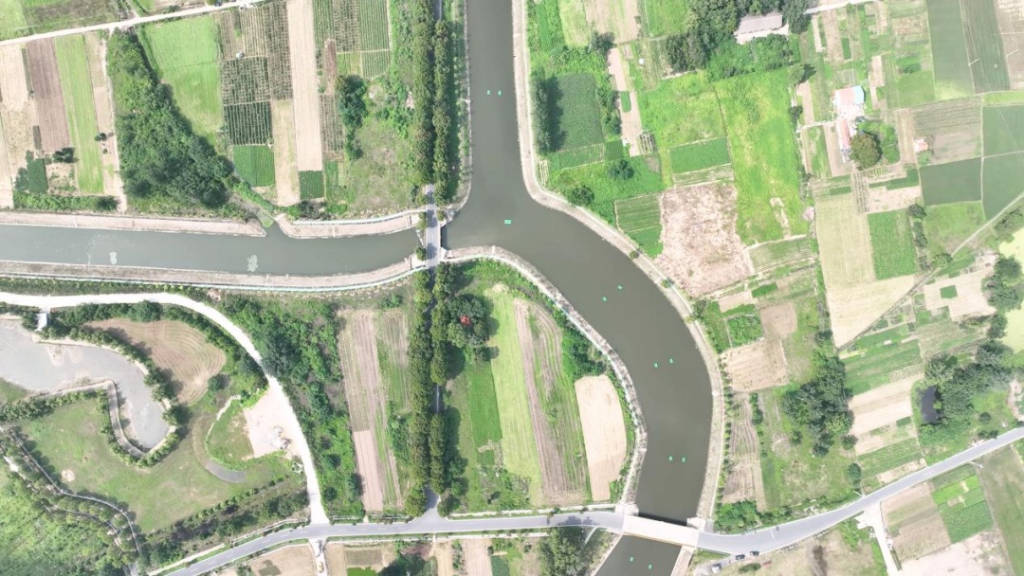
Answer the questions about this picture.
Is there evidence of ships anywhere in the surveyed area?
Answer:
No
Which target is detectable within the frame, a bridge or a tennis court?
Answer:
bridge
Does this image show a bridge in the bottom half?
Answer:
Yes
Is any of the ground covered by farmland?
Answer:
Yes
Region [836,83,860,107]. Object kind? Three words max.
house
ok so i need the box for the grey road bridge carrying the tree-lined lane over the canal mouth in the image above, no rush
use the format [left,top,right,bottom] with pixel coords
[412,183,457,268]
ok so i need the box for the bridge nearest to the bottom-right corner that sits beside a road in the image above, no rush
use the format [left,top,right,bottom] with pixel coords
[611,503,705,568]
